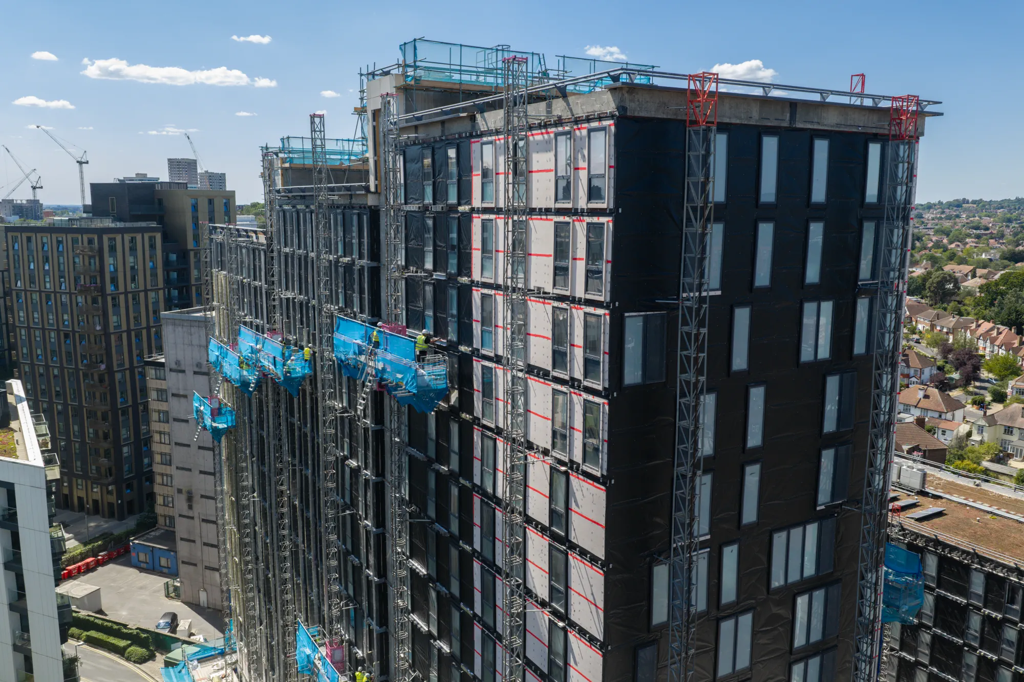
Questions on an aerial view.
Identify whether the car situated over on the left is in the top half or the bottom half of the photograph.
bottom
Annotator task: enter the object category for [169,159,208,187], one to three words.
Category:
building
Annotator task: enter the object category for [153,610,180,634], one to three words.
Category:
car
